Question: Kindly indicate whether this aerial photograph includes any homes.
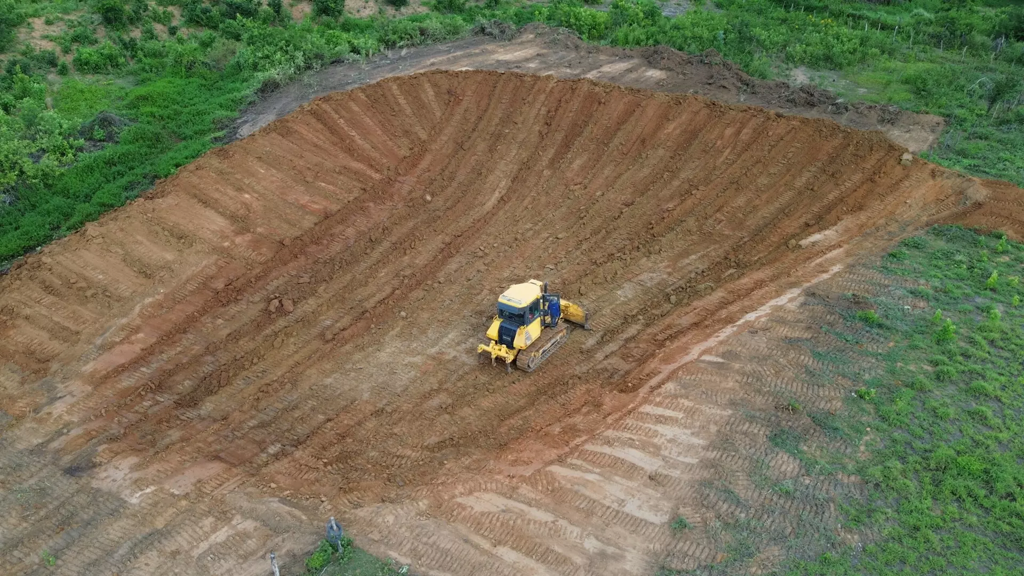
No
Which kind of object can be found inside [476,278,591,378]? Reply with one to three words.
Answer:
work vehicle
